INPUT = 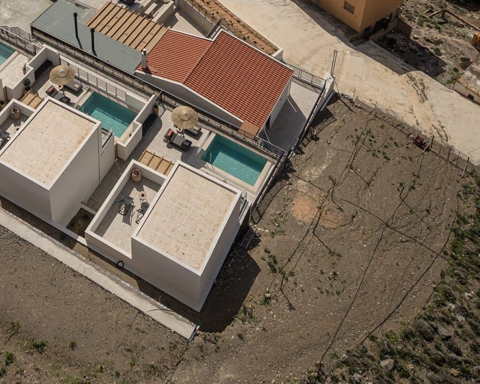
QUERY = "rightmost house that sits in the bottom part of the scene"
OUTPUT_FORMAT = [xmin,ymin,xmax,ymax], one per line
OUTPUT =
[80,148,246,314]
